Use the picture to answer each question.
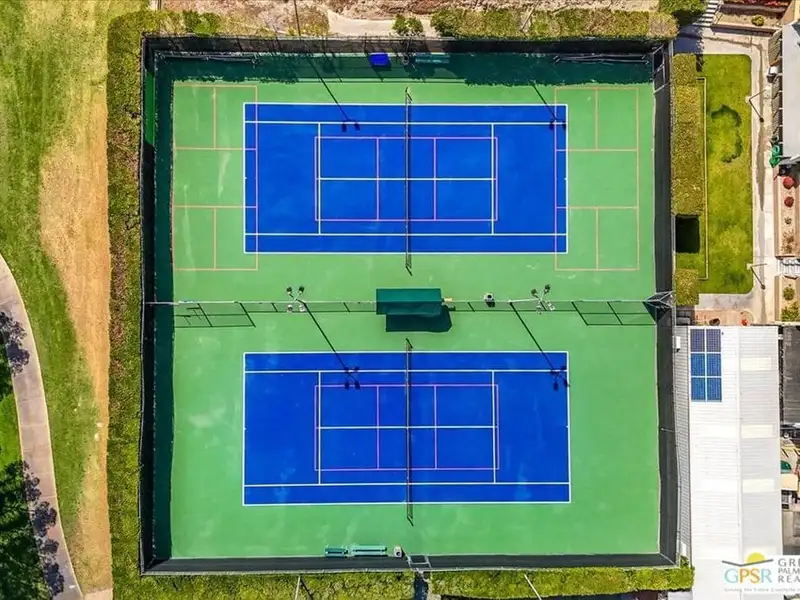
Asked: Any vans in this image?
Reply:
No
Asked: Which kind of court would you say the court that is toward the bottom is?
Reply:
tennis court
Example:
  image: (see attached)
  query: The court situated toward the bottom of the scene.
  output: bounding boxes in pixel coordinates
[243,352,570,505]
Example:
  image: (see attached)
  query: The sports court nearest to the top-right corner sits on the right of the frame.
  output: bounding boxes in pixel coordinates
[555,87,639,270]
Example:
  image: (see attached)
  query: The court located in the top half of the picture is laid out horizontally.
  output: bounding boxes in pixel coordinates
[244,103,568,253]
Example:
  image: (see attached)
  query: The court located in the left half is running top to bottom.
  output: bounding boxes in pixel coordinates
[171,84,258,270]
